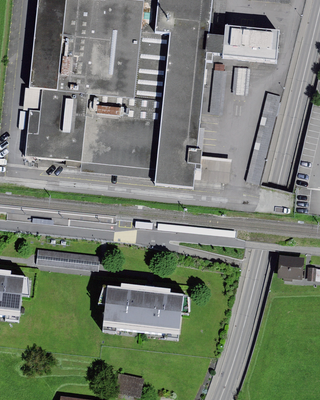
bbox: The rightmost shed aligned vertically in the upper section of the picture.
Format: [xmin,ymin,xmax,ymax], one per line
[247,93,281,186]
